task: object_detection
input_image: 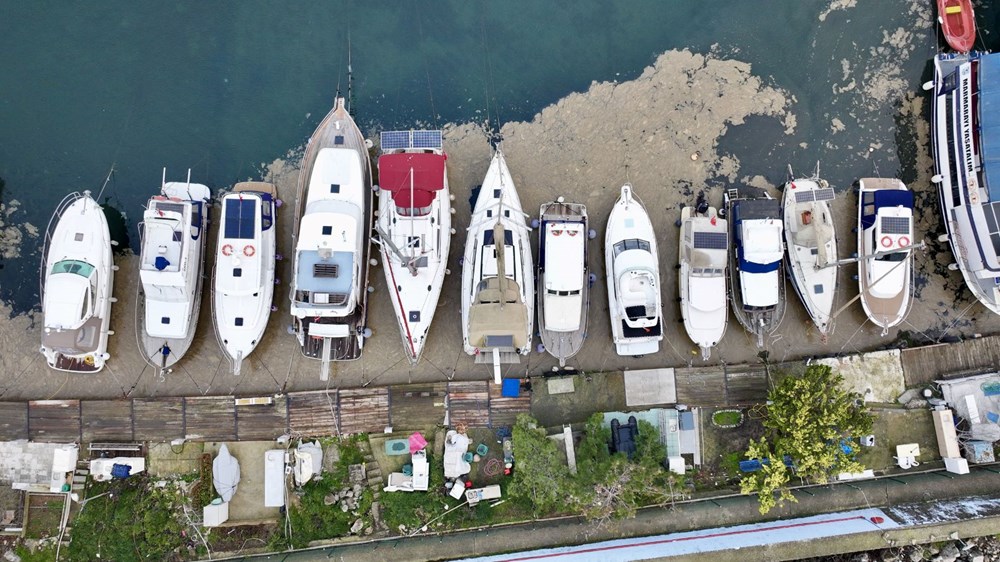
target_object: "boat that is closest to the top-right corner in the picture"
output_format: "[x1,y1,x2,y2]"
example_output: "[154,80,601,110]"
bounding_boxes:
[936,0,982,53]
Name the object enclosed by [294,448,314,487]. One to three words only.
boat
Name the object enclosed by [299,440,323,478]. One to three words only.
boat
